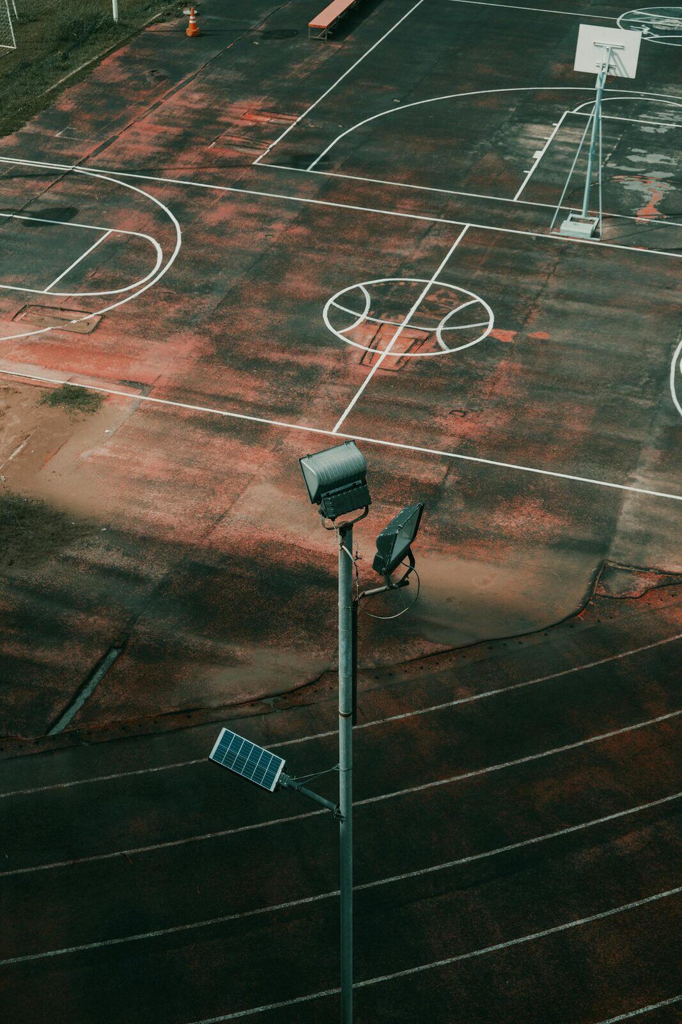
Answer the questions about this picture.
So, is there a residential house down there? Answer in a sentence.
No, the scene contains no residential house.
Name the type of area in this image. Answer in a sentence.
The picture captures a sports ground.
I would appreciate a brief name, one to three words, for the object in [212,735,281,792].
solar panel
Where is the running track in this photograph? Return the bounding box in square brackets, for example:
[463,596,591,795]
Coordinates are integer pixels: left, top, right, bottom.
[0,597,682,1024]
